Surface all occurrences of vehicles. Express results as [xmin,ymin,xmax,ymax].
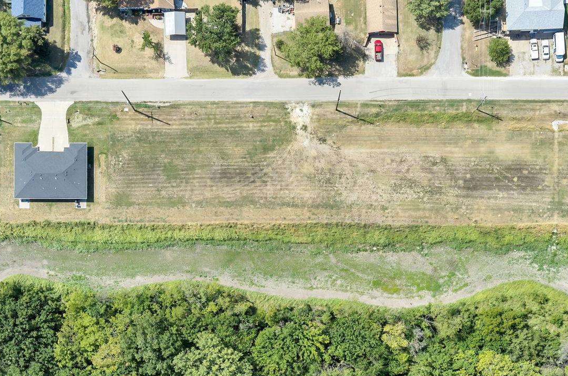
[553,29,567,63]
[373,39,384,64]
[540,40,550,61]
[529,39,540,62]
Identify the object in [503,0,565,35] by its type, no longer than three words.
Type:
house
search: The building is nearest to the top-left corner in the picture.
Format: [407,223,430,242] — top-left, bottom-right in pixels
[12,0,49,31]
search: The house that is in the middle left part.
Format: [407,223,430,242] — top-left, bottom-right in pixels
[14,142,89,200]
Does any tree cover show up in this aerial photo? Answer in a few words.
Yes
